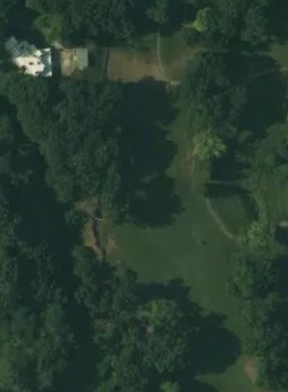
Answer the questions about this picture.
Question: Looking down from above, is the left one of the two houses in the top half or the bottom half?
top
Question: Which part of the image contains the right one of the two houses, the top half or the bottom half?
top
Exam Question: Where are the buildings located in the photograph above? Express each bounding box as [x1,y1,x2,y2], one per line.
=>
[11,39,51,77]
[56,40,88,75]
